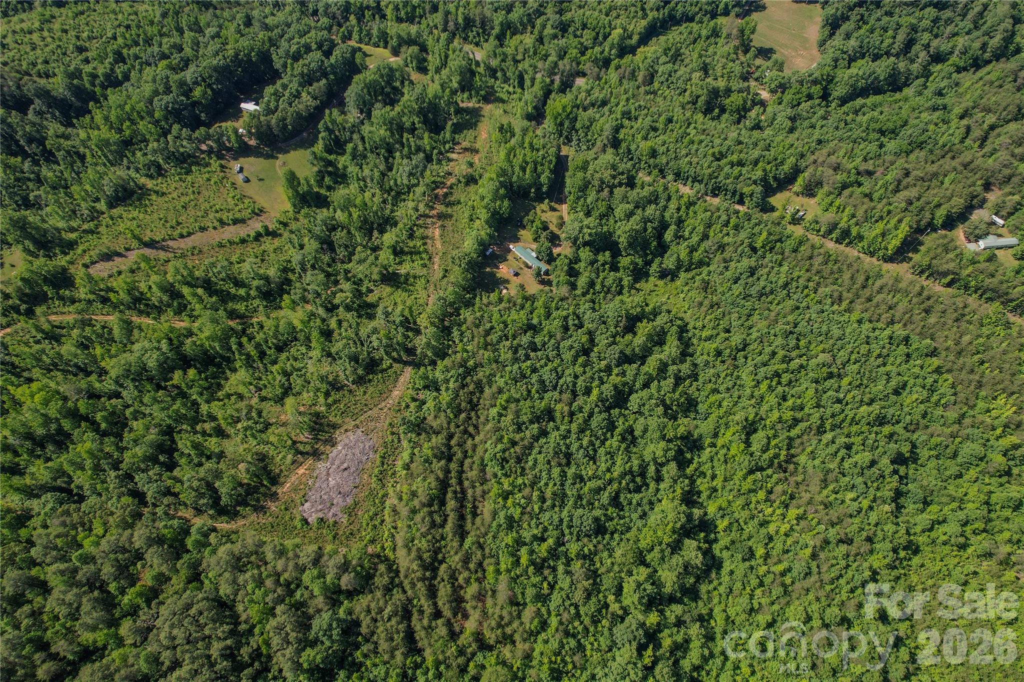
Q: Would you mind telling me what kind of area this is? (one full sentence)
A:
What you see here is a forest.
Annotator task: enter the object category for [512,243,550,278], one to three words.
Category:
house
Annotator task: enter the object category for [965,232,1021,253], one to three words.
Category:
house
